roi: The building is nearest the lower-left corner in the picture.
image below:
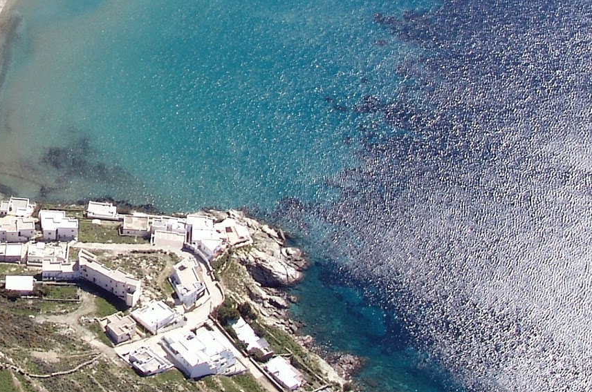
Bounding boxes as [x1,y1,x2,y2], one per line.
[4,275,35,296]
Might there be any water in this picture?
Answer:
Yes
